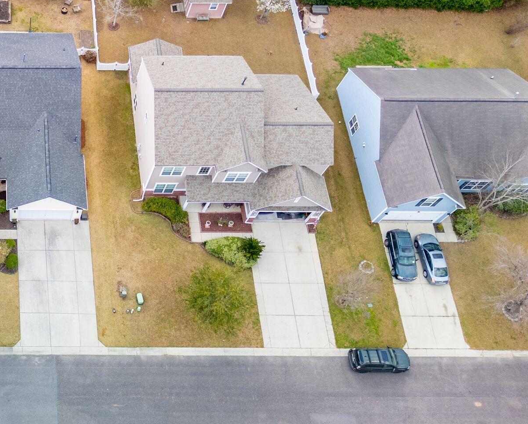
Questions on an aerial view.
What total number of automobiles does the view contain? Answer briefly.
three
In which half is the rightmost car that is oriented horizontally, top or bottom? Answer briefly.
bottom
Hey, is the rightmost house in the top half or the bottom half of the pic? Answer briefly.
top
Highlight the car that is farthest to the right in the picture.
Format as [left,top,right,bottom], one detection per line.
[413,234,456,288]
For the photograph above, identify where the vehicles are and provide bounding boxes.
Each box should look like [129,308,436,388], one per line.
[413,234,456,288]
[344,346,411,377]
[381,229,420,285]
